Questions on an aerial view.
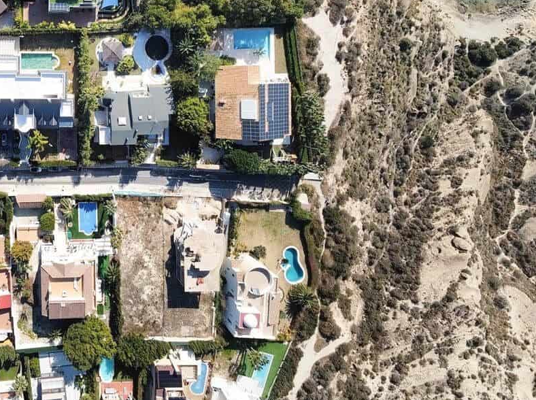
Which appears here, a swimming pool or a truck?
swimming pool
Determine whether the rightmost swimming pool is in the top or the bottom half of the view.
bottom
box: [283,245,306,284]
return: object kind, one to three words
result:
swimming pool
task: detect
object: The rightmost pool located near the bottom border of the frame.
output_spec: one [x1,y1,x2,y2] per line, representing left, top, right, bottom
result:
[251,351,274,389]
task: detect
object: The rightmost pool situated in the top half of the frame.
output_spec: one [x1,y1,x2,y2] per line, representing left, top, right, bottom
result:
[233,29,271,61]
